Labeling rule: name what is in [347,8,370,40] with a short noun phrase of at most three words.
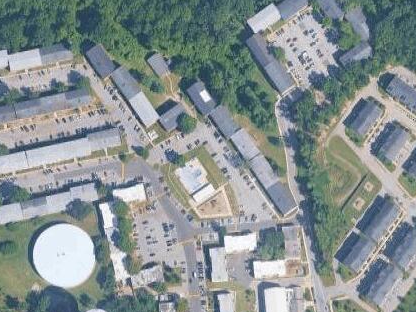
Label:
building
